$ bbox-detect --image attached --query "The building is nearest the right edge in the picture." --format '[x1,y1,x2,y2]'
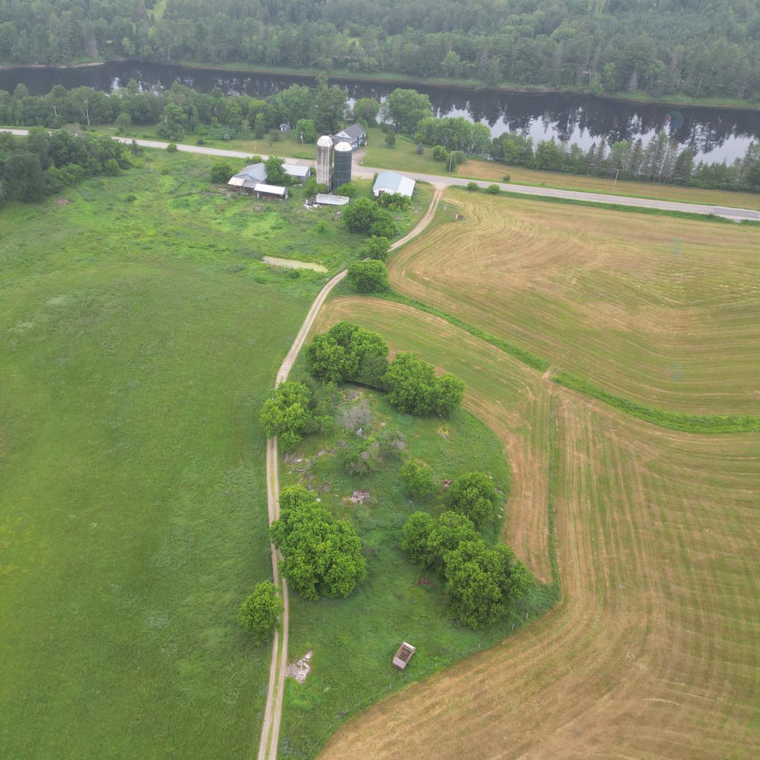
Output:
[373,171,414,200]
